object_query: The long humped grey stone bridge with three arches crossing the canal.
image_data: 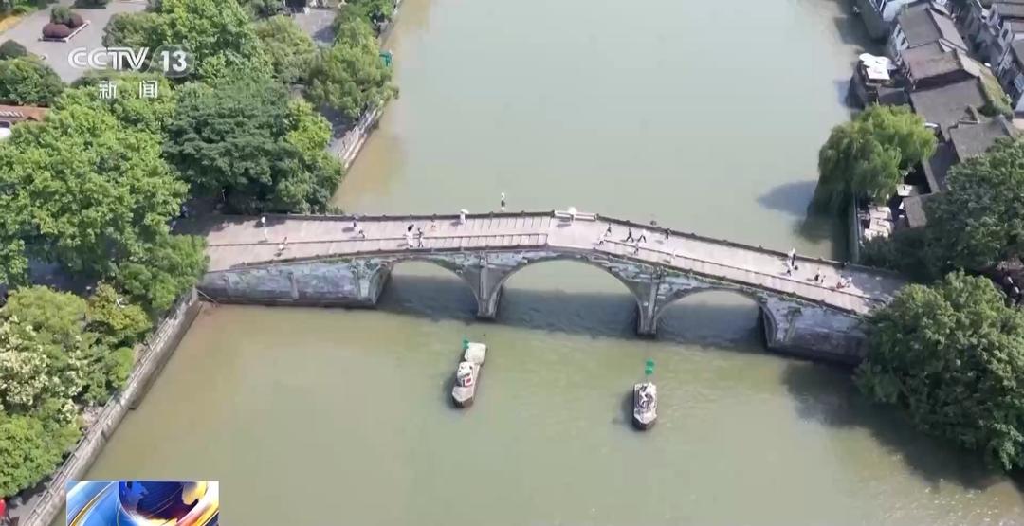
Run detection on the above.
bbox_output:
[195,208,974,372]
